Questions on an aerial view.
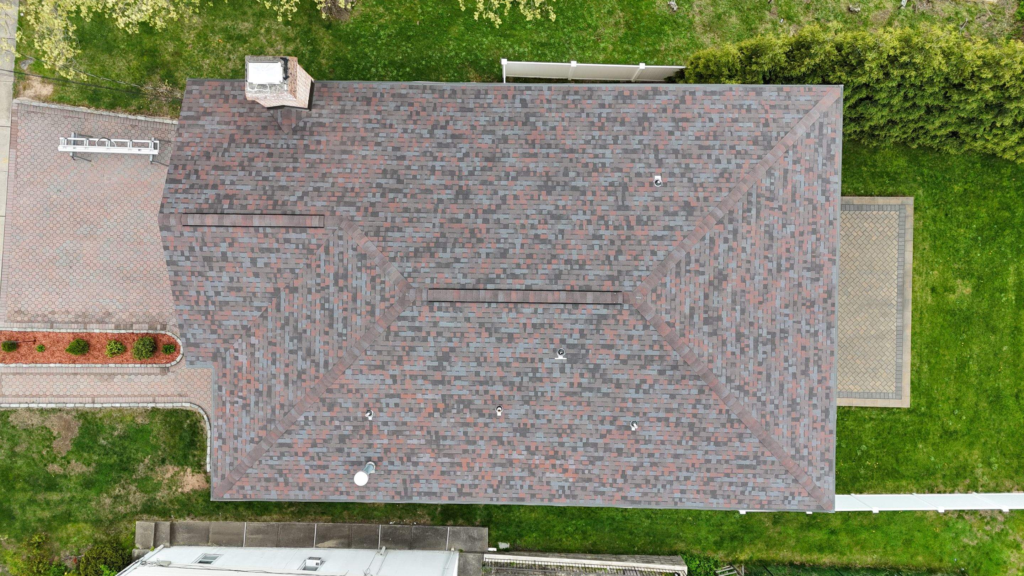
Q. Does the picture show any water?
No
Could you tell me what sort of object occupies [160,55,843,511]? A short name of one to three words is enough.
house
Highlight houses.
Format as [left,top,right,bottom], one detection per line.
[118,545,459,576]
[160,55,843,511]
